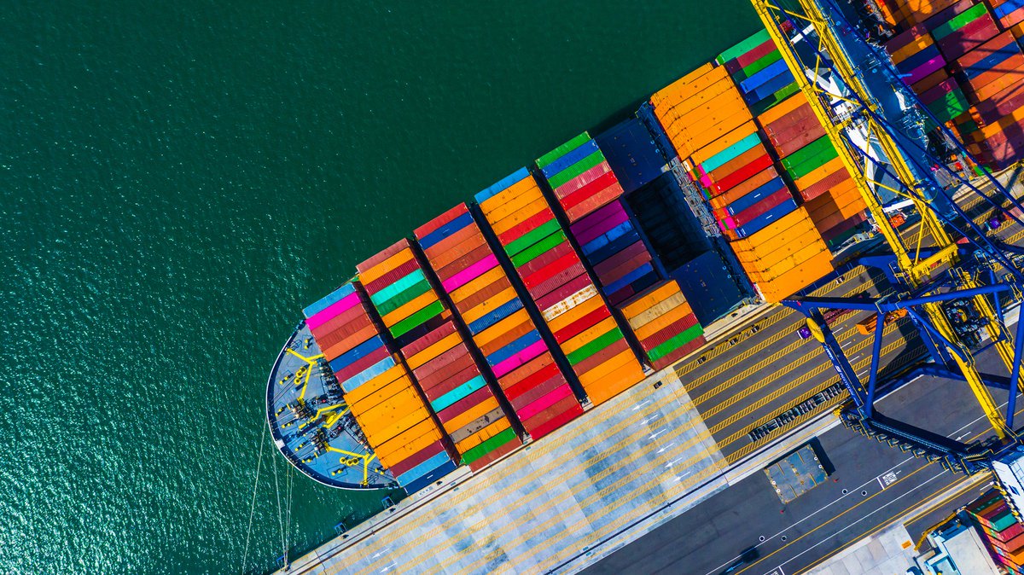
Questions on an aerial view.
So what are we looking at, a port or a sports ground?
port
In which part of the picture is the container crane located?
right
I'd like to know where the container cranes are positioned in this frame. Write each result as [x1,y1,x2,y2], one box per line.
[745,0,1024,546]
